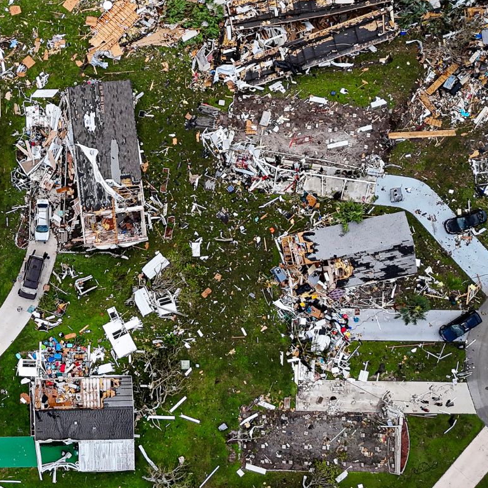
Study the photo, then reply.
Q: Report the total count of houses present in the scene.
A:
3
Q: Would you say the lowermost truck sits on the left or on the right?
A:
right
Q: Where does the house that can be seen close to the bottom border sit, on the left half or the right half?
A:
left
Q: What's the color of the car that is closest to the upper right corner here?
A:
black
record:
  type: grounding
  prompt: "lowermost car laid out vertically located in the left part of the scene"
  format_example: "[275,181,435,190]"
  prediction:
[19,254,44,300]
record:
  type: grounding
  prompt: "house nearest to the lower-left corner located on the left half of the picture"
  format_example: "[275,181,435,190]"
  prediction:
[33,371,134,481]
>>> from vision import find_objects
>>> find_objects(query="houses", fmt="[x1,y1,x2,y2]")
[270,211,418,292]
[33,371,134,481]
[68,81,148,246]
